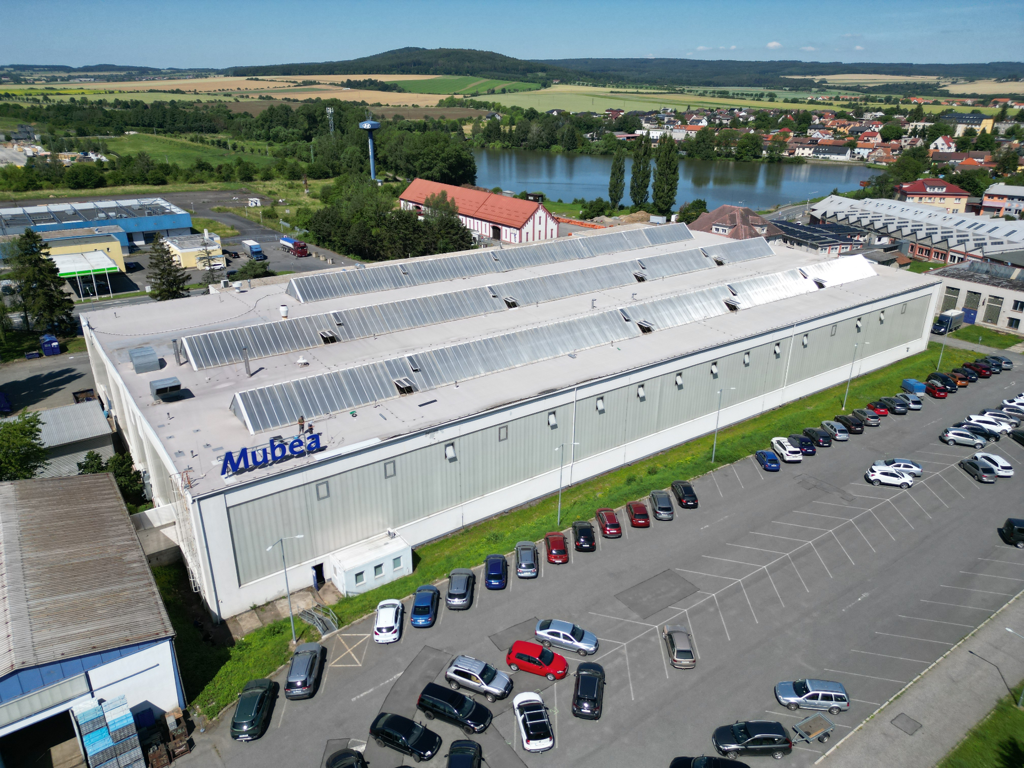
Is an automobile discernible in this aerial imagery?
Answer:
Yes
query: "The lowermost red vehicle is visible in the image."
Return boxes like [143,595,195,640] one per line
[503,640,568,680]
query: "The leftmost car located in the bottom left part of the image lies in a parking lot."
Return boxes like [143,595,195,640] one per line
[231,674,283,738]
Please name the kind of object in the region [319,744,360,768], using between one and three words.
car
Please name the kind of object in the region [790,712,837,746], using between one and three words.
trailer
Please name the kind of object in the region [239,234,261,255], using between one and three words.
truck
